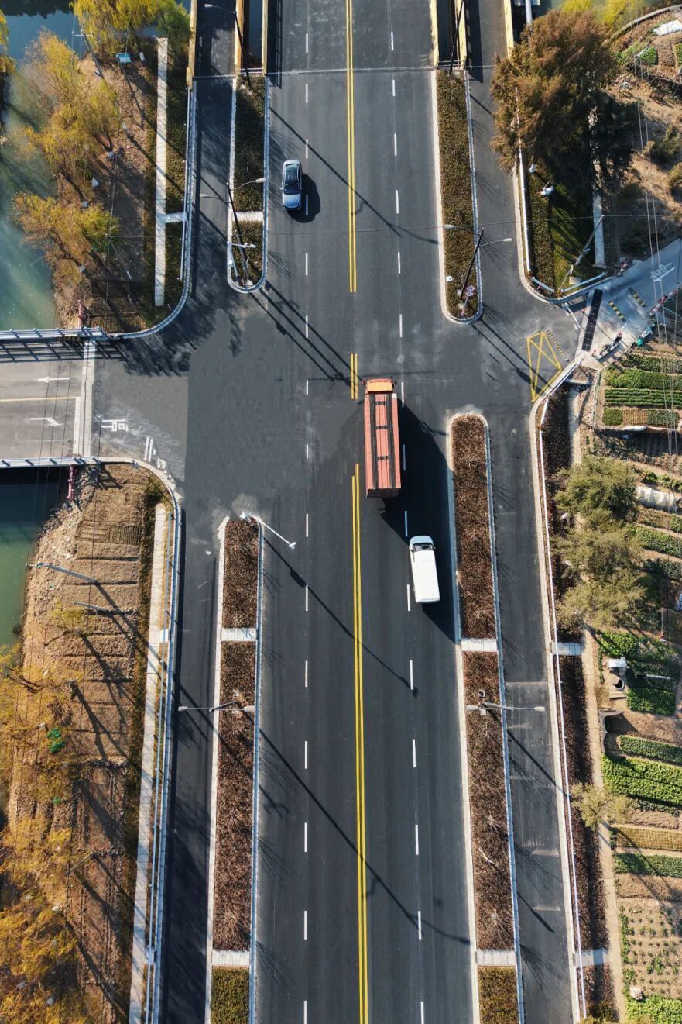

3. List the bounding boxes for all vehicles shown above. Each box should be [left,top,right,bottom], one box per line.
[409,538,439,606]
[362,377,401,501]
[279,155,304,208]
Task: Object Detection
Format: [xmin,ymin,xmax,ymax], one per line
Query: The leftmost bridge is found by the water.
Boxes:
[0,329,102,469]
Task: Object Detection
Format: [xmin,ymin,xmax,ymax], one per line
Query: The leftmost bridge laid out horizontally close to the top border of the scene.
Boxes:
[261,0,438,79]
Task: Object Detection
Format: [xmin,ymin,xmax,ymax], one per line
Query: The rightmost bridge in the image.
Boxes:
[454,0,516,77]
